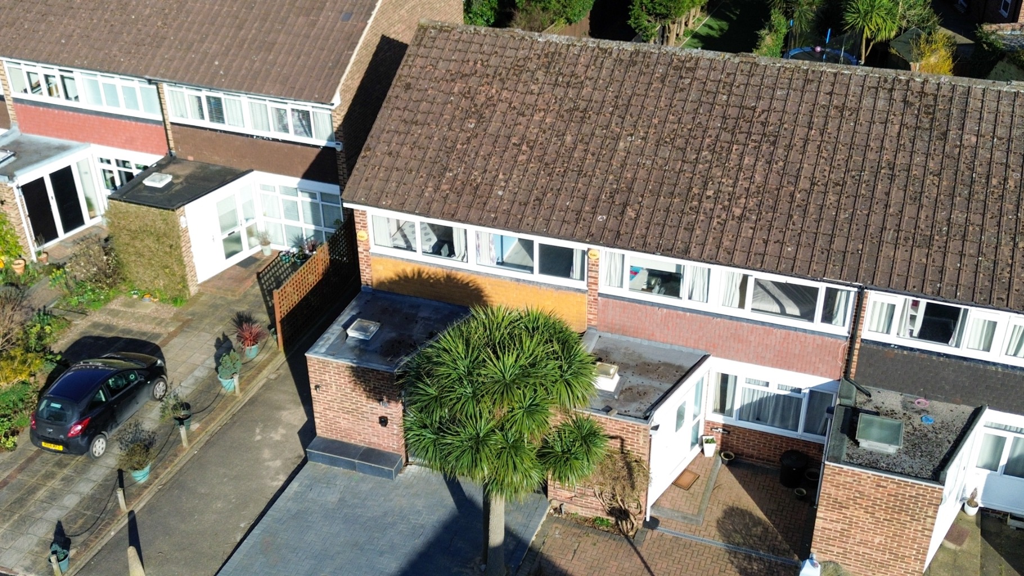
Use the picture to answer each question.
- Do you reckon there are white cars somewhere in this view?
No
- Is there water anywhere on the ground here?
No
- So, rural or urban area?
urban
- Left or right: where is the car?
left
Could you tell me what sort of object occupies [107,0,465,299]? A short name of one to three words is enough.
house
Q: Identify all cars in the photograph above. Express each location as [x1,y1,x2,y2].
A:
[27,355,169,465]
